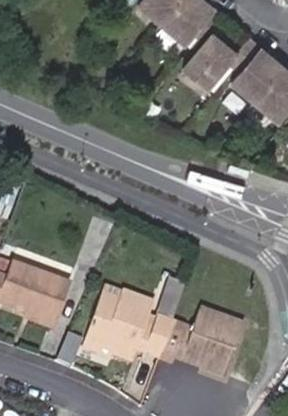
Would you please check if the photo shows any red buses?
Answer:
No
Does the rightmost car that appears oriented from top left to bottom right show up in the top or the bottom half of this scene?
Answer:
top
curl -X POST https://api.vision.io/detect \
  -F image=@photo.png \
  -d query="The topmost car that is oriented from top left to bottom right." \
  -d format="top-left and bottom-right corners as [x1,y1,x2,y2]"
[257,26,278,46]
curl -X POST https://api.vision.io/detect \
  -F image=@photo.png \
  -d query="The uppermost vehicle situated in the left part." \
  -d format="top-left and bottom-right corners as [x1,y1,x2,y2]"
[62,298,75,318]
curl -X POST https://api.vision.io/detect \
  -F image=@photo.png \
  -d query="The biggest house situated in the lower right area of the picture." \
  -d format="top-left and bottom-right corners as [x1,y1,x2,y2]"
[184,304,245,380]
